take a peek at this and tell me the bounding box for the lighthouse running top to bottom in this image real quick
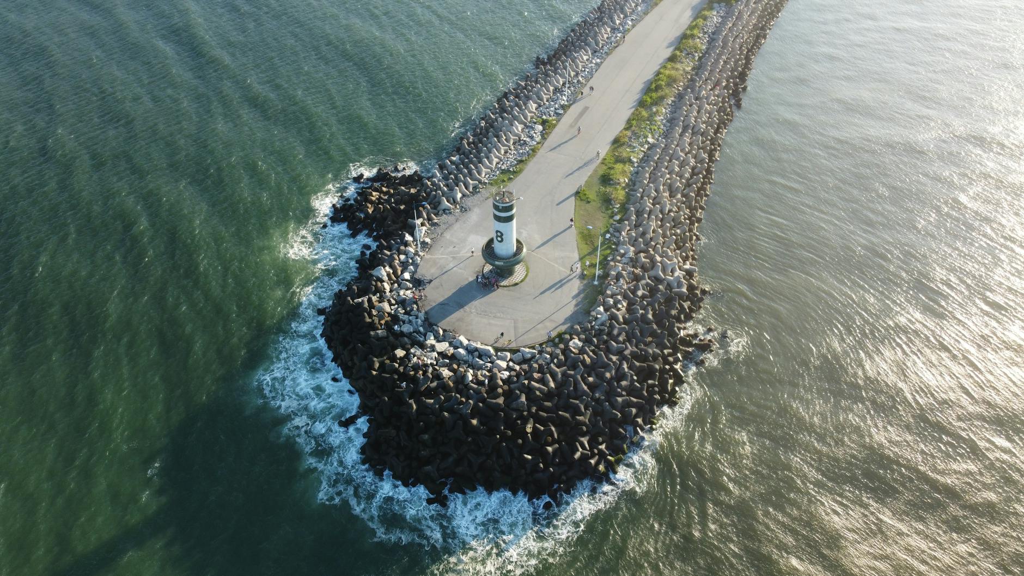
[484,182,530,287]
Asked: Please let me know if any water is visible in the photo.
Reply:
Yes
